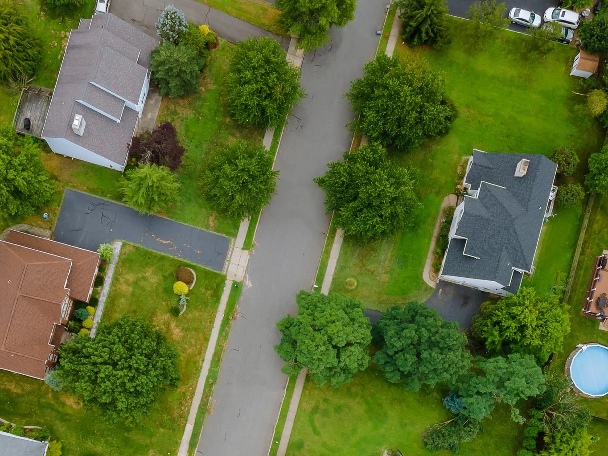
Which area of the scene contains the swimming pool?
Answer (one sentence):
The swimming pool appears toward the bottom right of the photo.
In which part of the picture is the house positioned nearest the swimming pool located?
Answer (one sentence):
The house positioned nearest the swimming pool is located in the right region of the scene.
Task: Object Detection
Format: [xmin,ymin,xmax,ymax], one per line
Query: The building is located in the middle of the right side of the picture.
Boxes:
[437,148,558,295]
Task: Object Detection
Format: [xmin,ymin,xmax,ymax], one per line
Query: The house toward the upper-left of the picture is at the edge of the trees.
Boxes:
[41,11,162,171]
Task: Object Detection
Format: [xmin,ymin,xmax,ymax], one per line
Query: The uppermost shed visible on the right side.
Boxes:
[570,50,601,79]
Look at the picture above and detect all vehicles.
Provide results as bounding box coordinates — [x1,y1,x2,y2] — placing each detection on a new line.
[506,8,539,32]
[94,0,111,13]
[542,9,581,32]
[537,26,574,47]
